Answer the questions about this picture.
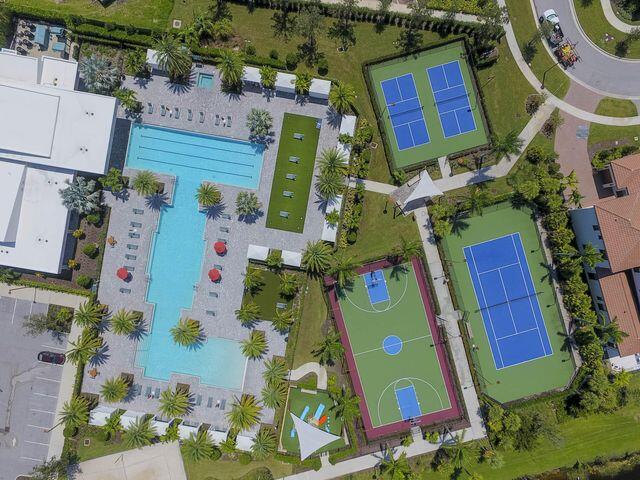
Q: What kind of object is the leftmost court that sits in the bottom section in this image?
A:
basketball court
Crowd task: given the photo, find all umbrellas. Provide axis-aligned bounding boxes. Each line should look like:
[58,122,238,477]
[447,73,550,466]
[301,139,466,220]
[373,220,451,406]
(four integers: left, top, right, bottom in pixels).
[117,267,130,279]
[209,268,221,280]
[214,241,226,254]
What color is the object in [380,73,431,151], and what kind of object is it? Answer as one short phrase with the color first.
blue sports court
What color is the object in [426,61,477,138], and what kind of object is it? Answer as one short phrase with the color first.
blue sports court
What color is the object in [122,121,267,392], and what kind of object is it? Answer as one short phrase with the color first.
blue swimming pool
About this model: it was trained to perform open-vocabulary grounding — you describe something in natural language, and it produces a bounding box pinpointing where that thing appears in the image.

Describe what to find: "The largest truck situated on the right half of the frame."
[546,7,569,42]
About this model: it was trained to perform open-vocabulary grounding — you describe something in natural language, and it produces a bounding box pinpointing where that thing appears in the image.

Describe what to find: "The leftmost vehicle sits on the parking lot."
[36,351,63,366]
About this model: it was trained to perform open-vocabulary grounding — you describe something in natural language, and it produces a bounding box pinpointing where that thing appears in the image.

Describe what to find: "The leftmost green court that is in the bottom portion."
[322,255,461,441]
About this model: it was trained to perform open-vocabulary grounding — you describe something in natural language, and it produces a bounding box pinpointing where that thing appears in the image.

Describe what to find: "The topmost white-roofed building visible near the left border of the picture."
[0,48,118,274]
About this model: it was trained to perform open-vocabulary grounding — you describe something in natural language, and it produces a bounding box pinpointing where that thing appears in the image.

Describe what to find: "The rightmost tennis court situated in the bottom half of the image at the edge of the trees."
[444,204,576,405]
